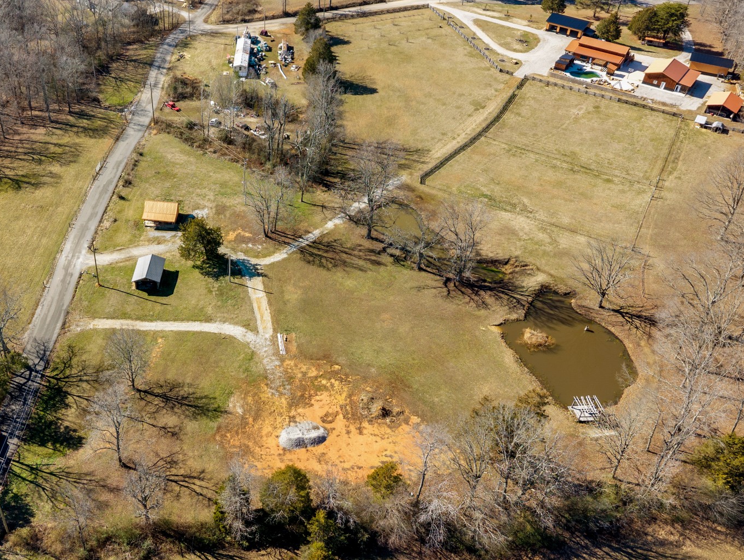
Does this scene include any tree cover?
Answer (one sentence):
Yes, some tree cover is visible.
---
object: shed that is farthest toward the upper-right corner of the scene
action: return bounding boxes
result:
[688,52,734,75]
